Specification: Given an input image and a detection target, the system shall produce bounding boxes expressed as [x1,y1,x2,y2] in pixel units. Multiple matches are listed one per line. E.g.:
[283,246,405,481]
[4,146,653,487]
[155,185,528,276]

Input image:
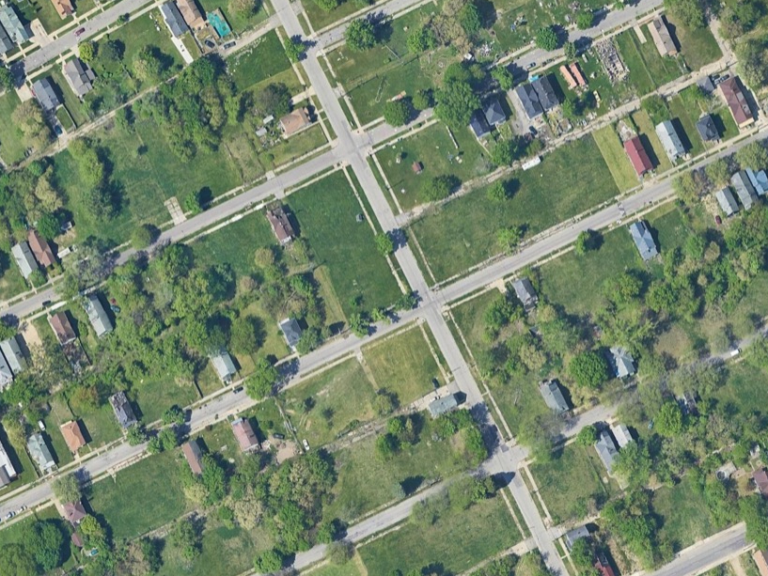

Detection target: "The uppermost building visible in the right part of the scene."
[648,14,680,59]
